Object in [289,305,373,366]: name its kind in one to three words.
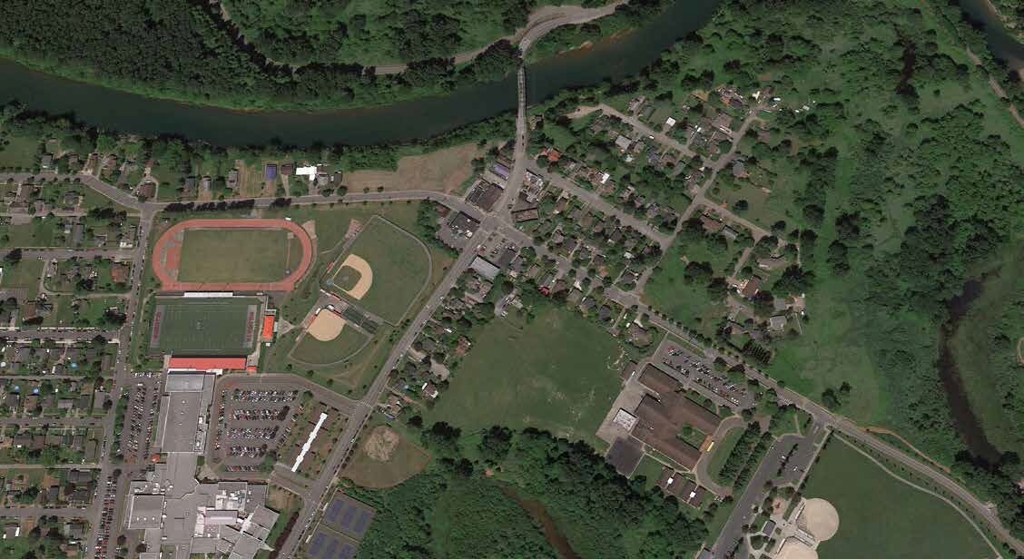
baseball field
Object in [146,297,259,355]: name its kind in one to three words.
sports field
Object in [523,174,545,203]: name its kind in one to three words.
building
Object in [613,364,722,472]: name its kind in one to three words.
building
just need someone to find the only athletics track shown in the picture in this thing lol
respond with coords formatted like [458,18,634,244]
[152,217,312,290]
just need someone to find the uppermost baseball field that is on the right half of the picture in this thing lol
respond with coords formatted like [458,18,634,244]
[797,499,839,541]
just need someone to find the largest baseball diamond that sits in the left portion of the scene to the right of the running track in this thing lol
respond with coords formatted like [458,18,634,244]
[319,216,432,327]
